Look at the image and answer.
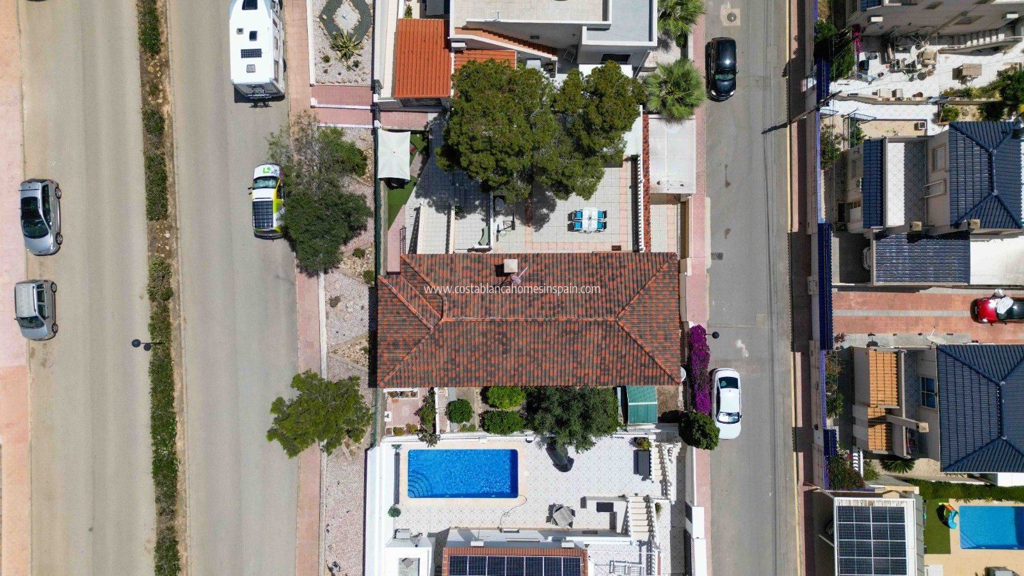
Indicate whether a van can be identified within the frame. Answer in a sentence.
Yes, the image includes a van.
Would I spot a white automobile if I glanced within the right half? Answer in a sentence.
Yes, a white automobile appears within the right half.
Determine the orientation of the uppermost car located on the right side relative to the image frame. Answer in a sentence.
I'd say the uppermost car located on the right side is aligned vertically in the picture.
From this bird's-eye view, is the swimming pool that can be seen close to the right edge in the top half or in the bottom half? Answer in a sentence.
Seen from above, the swimming pool that can be seen close to the right edge lies in the bottom half of the view.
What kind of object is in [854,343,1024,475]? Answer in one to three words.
house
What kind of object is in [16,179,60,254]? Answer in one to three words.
car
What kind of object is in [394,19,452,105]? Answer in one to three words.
building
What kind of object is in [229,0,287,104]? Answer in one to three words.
camper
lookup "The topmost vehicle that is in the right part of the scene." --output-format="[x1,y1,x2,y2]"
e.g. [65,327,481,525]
[706,35,741,103]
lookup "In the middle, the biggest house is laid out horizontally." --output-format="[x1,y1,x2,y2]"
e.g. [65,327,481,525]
[376,252,690,389]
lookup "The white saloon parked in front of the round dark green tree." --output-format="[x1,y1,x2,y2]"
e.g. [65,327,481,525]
[711,367,747,440]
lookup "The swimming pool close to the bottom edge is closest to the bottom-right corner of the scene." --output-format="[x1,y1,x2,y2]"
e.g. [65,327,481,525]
[956,503,1024,551]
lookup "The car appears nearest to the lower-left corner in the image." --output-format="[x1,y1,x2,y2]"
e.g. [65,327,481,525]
[10,278,55,341]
